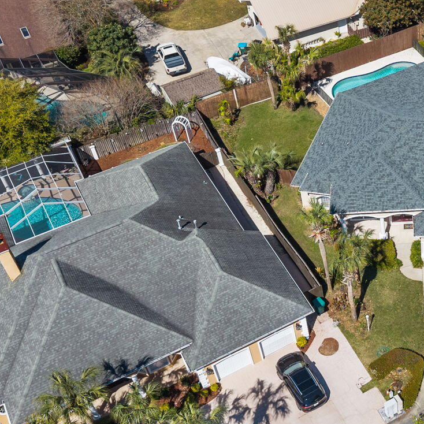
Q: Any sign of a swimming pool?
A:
Yes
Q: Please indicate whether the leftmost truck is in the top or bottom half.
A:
top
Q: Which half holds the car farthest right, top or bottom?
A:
bottom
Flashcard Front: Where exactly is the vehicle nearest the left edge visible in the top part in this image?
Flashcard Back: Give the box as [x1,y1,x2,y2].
[155,40,188,81]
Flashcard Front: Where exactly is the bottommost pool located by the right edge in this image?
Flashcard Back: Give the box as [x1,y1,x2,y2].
[328,59,419,102]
